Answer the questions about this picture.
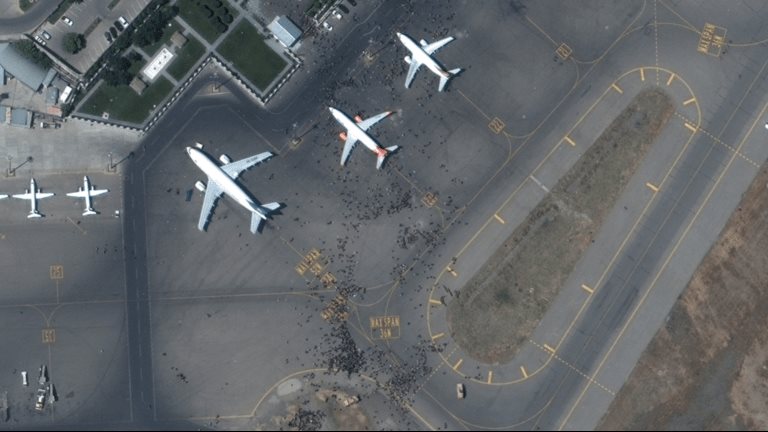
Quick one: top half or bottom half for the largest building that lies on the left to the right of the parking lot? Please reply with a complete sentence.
The top half of the photo is where the largest building that lies on the left to the right of the parking lot is.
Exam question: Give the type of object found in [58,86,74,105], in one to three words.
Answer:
vehicle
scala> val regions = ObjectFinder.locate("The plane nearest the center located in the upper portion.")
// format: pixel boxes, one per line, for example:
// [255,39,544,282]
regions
[329,106,399,168]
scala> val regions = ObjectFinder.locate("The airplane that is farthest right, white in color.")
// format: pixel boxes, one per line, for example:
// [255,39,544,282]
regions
[397,32,460,88]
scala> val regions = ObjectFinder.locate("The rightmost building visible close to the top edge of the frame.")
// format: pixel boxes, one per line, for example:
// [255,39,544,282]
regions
[264,15,302,50]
